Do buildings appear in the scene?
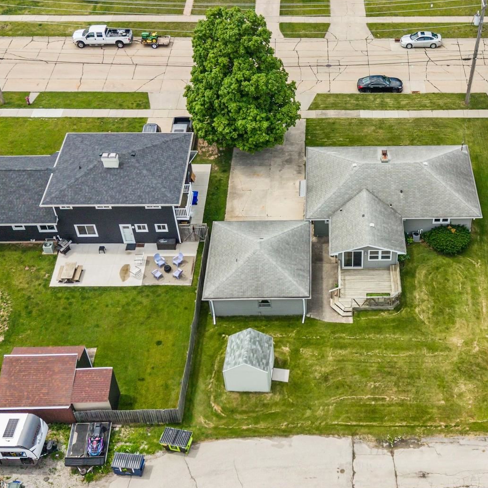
Yes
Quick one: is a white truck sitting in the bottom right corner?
No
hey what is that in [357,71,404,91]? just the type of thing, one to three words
car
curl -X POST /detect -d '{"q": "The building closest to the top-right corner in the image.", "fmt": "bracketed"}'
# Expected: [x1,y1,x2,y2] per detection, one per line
[298,139,482,273]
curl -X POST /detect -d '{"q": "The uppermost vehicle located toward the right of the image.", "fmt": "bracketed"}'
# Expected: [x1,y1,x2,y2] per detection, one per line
[399,28,443,46]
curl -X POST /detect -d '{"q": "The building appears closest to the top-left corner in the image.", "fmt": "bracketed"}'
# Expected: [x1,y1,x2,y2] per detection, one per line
[0,132,206,244]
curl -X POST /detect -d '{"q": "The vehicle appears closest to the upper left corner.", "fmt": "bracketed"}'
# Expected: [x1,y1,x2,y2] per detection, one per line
[69,22,132,45]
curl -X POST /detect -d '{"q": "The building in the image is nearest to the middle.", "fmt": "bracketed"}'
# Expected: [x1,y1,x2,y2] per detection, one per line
[201,220,312,323]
